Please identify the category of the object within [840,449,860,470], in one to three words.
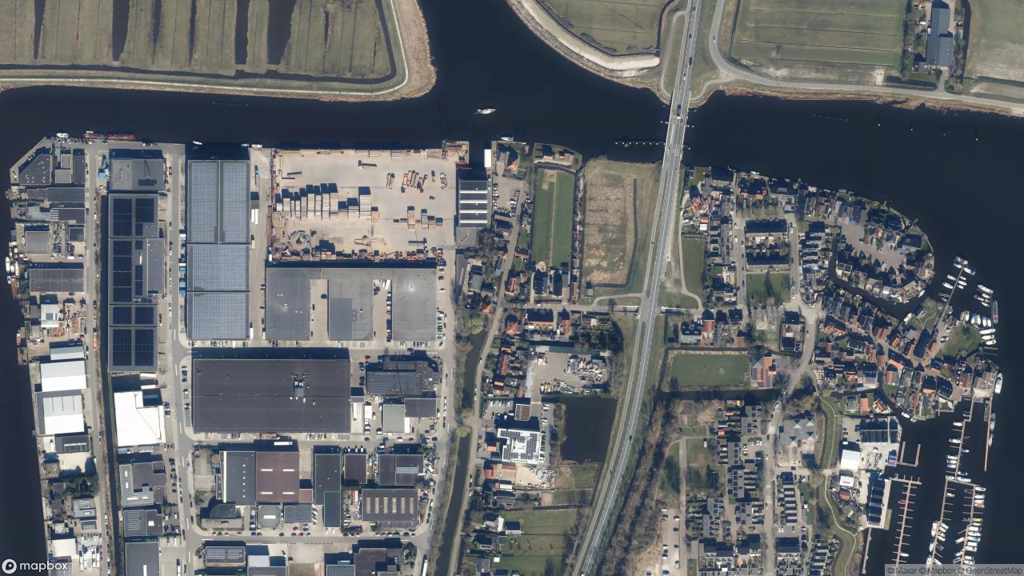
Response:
shed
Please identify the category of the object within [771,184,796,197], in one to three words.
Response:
house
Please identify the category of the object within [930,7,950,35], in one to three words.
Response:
barn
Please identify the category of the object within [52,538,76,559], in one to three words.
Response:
building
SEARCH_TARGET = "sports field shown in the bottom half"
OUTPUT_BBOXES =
[670,354,750,387]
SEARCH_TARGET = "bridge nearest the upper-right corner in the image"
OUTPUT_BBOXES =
[662,102,687,166]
